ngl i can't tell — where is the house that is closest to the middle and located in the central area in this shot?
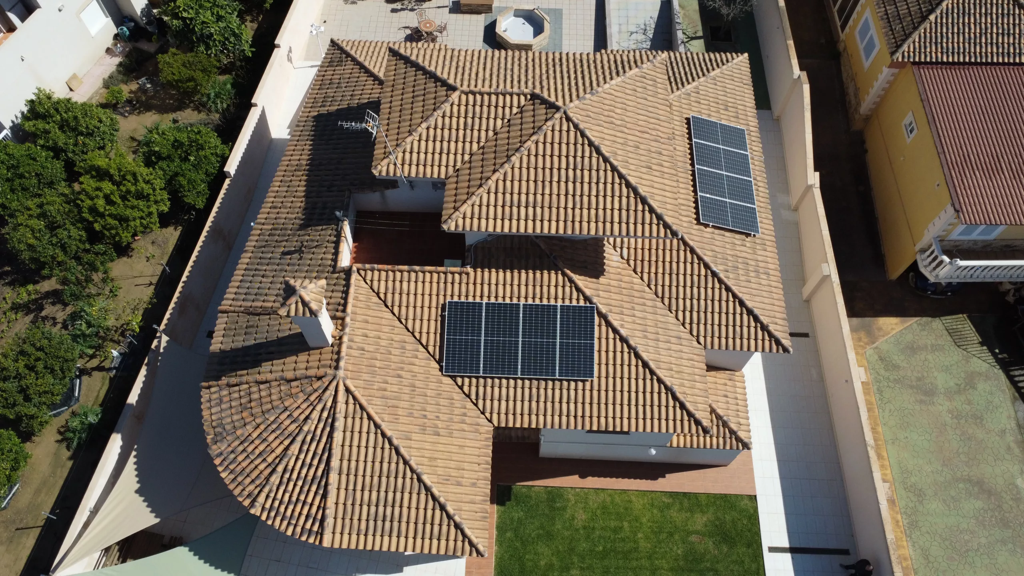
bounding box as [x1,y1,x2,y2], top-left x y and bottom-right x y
[194,38,796,561]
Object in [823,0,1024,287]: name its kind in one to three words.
house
